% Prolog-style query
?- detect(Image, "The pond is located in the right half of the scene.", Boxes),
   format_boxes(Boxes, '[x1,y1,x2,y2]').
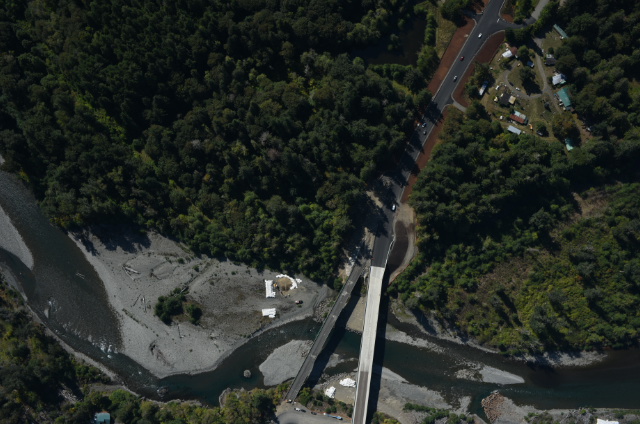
[350,13,427,68]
